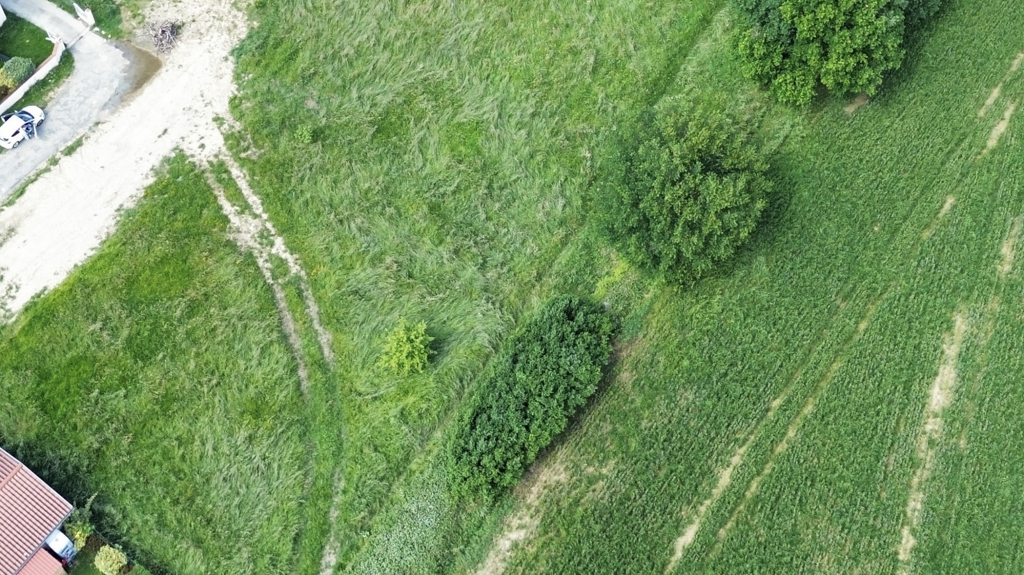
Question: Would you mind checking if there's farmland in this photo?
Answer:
Yes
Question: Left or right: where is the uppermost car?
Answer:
left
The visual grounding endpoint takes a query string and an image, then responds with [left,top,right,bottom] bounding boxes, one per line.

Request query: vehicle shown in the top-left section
[0,104,46,149]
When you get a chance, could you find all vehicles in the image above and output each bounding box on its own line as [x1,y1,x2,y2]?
[45,531,80,563]
[0,104,46,149]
